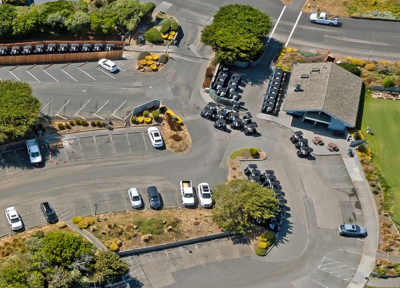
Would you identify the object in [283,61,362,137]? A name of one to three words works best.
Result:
barn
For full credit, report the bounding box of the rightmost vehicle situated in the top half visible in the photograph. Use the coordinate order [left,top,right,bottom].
[311,14,337,27]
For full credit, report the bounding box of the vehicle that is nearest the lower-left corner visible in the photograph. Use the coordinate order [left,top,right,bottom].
[5,207,22,230]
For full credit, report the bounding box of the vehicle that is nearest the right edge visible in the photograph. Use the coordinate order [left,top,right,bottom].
[338,224,366,238]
